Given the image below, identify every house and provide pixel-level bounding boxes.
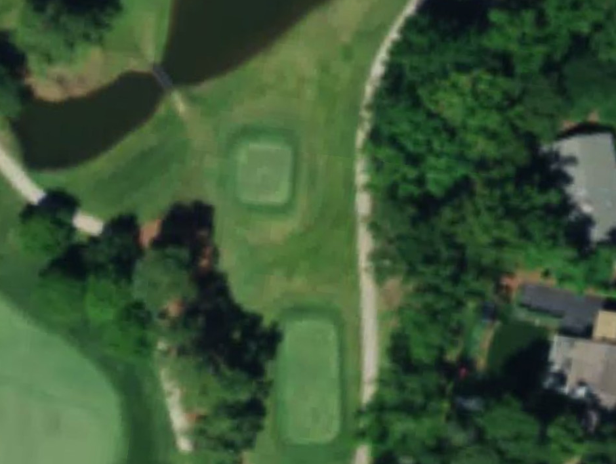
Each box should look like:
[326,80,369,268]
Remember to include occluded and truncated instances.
[546,337,616,421]
[552,134,616,244]
[519,282,604,341]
